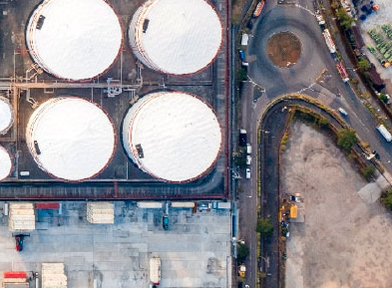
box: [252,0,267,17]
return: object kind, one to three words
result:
vehicle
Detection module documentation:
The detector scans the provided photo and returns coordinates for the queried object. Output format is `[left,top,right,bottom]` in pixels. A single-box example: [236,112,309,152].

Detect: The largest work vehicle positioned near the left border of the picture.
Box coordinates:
[12,234,31,251]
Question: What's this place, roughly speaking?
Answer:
industrial area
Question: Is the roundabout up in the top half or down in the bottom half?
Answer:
top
